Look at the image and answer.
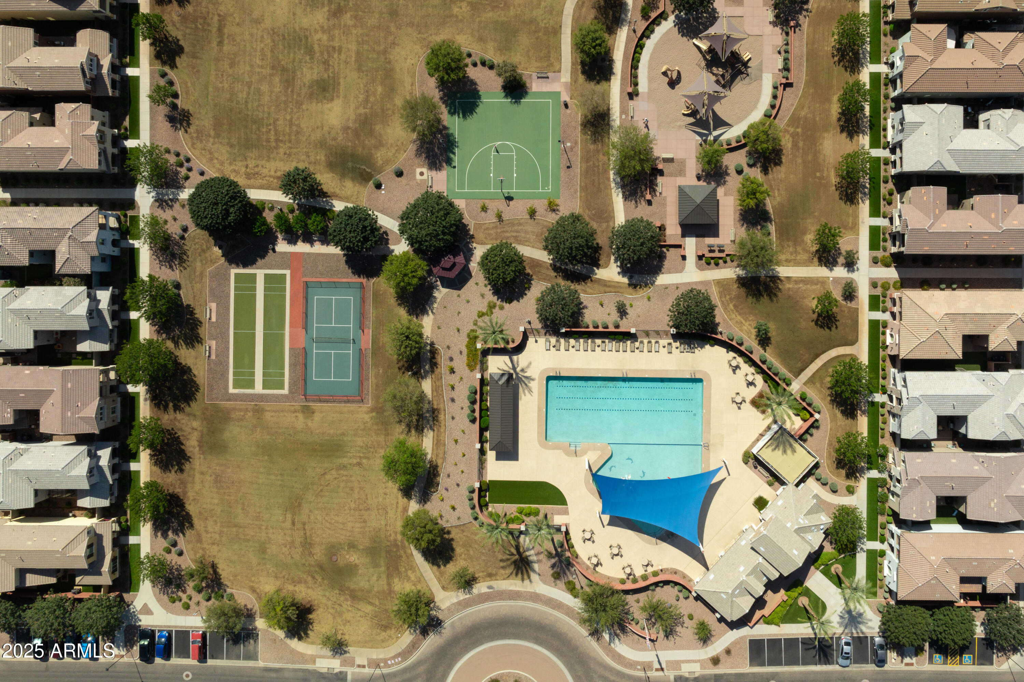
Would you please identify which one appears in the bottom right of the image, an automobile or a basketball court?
automobile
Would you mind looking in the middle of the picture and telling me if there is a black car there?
No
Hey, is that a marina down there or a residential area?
residential area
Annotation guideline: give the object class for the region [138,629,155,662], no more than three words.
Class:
car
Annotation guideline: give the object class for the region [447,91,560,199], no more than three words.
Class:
basketball court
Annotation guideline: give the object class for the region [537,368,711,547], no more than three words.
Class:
swimming pool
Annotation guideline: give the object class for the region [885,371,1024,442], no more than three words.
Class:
house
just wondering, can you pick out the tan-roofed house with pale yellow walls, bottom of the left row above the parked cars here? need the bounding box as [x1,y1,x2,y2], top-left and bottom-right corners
[0,519,122,594]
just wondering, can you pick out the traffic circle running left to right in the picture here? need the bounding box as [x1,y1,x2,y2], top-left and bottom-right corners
[449,640,572,682]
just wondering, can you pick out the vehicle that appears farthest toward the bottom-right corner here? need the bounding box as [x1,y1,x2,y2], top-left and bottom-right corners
[872,635,887,668]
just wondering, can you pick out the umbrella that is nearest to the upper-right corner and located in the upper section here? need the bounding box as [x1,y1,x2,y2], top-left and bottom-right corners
[699,10,749,61]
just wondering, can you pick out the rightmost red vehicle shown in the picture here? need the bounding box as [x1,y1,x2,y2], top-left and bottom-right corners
[190,631,205,661]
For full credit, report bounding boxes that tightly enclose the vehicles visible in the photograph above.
[190,631,205,661]
[836,635,852,667]
[872,635,887,668]
[138,629,155,662]
[156,631,171,659]
[48,632,64,661]
[80,632,97,660]
[31,636,48,661]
